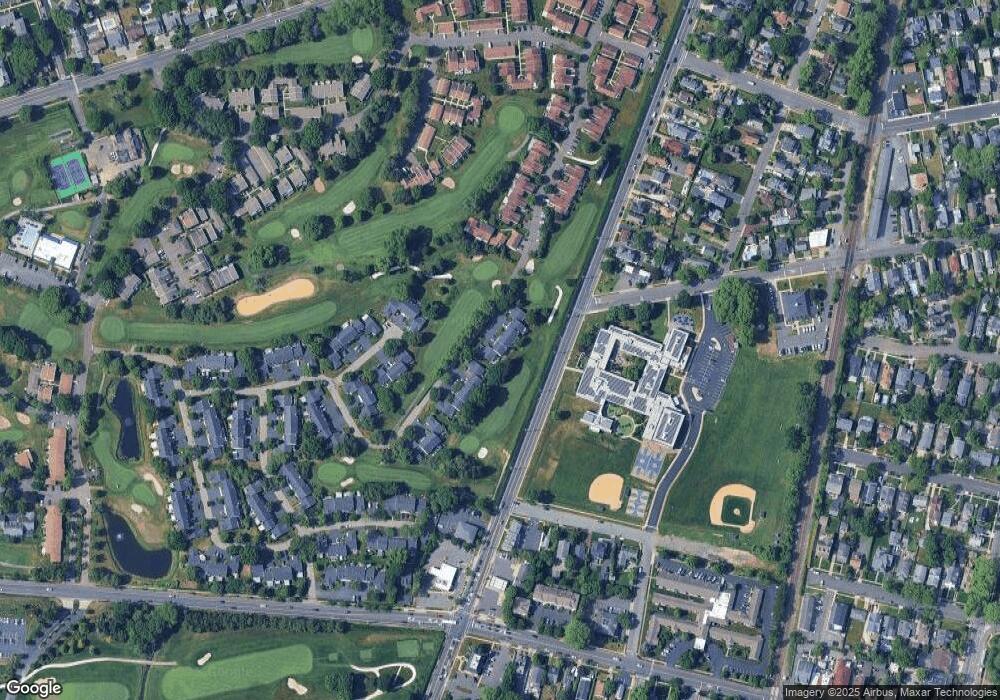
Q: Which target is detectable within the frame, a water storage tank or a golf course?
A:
golf course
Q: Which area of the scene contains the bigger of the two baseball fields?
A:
bottom right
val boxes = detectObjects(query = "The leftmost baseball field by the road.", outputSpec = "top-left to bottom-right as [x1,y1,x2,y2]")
[589,474,630,515]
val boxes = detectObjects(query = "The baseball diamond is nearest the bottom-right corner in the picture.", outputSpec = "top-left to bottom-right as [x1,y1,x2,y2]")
[710,484,767,539]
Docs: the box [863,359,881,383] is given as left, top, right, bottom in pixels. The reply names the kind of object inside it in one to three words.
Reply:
house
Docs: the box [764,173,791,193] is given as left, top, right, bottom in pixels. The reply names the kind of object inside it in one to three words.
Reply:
house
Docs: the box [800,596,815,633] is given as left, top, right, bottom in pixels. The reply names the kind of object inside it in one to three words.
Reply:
building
